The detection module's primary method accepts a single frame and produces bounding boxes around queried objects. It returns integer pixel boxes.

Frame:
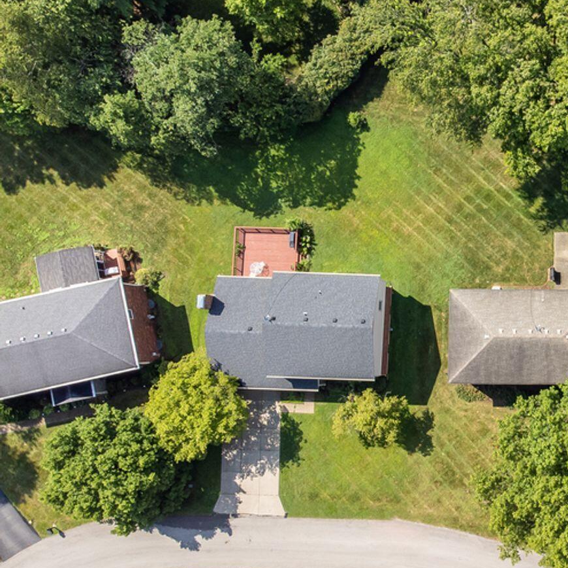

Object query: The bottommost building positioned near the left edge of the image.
[0,275,161,409]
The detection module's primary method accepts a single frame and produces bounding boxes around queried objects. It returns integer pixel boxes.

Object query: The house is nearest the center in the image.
[196,270,391,391]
